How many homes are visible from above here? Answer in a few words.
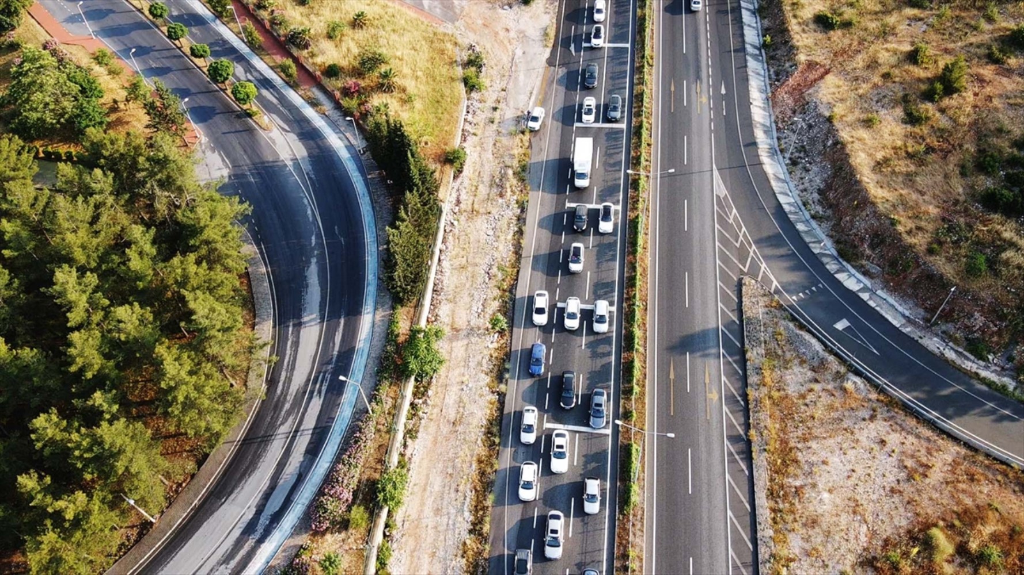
0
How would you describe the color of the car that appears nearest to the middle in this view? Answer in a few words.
white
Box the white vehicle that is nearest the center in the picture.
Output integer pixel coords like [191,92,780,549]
[530,291,550,327]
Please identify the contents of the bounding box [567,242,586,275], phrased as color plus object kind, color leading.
white car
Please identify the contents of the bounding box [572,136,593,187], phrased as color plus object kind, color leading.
white truck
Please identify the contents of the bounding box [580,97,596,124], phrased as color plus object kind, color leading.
white car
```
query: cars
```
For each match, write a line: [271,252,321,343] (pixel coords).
[516,458,539,505]
[588,389,609,431]
[571,202,589,234]
[549,431,570,476]
[530,291,550,327]
[580,97,596,124]
[558,370,578,412]
[583,64,599,88]
[590,24,605,47]
[690,0,702,10]
[525,107,546,131]
[607,95,623,121]
[597,203,615,235]
[591,300,610,334]
[592,0,606,21]
[543,511,565,562]
[527,341,548,380]
[567,242,586,275]
[581,475,602,519]
[518,404,539,448]
[562,297,581,331]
